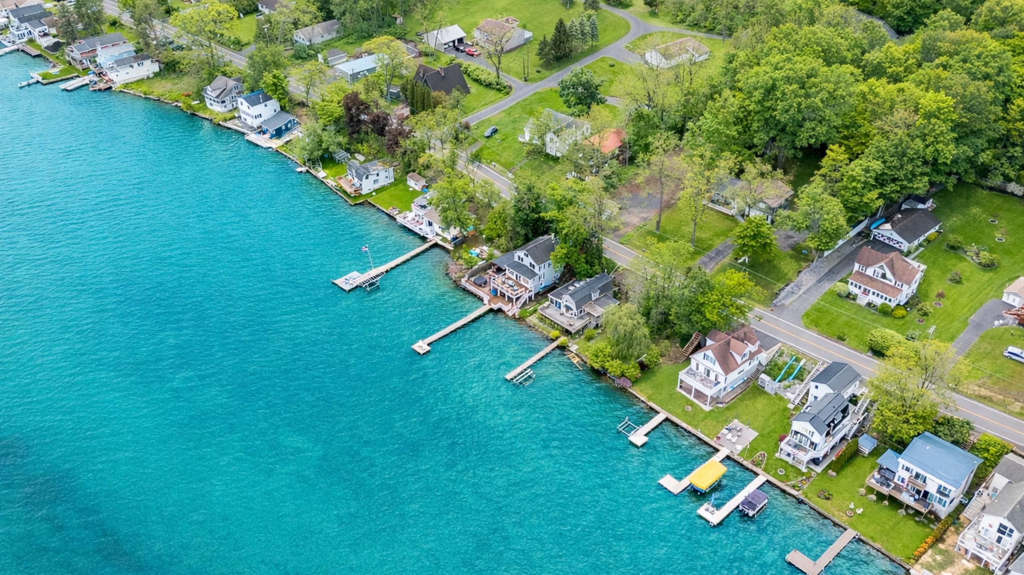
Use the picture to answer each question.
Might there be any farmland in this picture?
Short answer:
No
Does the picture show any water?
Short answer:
Yes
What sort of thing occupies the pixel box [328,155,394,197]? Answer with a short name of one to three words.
house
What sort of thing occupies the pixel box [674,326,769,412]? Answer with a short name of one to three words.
house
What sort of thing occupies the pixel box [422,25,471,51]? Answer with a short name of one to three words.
building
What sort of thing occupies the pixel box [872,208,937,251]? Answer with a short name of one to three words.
building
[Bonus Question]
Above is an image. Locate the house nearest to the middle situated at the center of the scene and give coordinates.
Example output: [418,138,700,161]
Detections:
[462,230,564,318]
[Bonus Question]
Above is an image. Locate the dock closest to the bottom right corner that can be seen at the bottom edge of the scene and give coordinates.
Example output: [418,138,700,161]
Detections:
[784,531,854,575]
